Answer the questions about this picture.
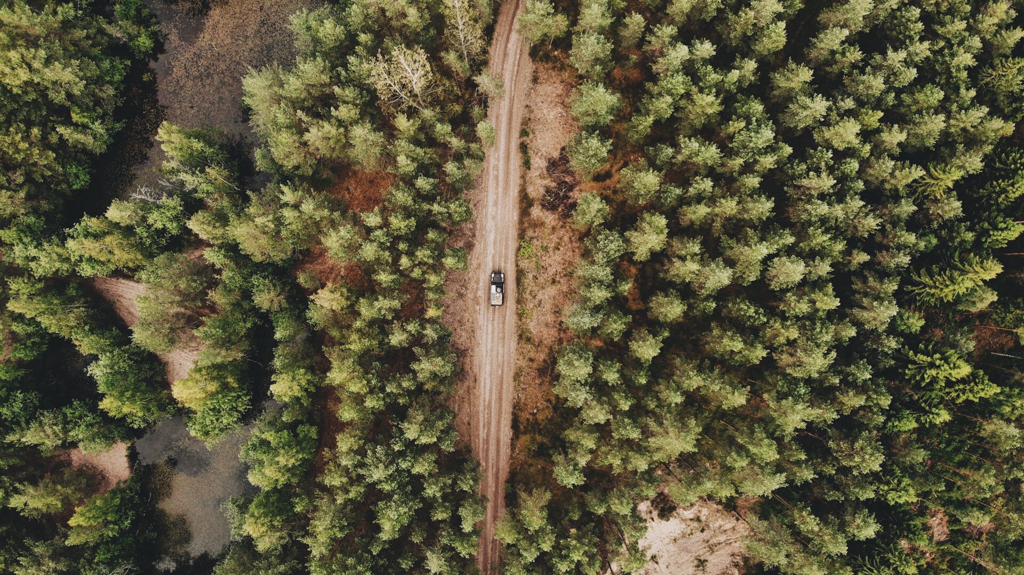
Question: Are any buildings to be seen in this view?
No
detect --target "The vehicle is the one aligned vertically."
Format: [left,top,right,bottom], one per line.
[490,271,505,307]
